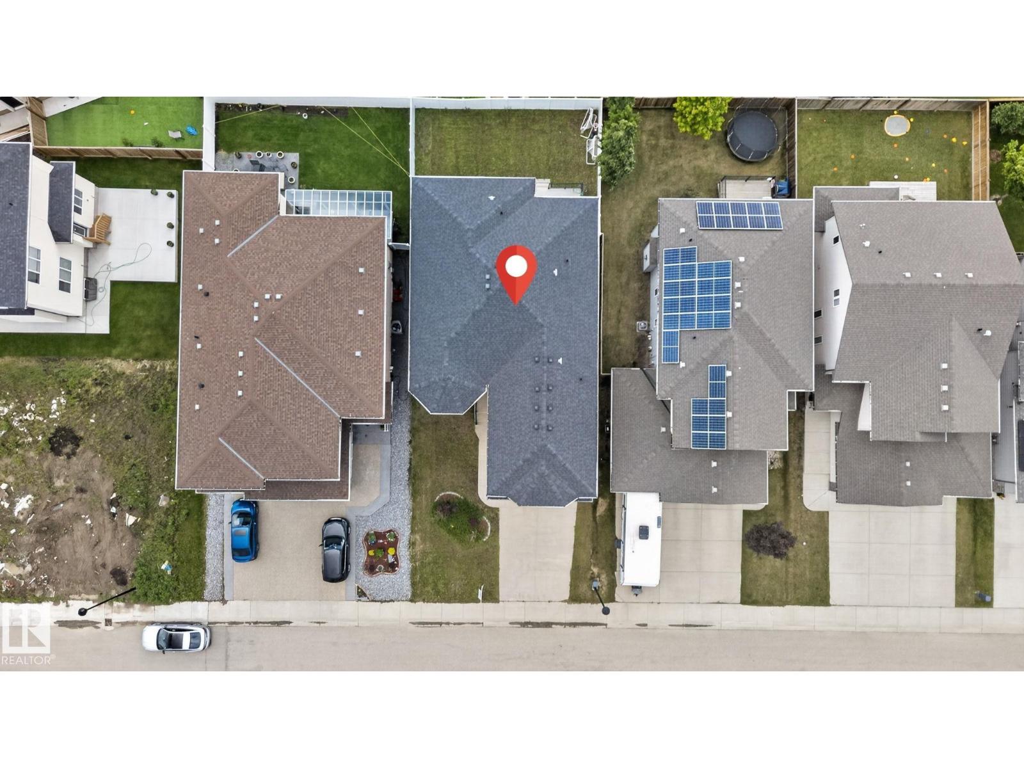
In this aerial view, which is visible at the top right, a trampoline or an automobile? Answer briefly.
trampoline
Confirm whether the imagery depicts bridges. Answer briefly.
No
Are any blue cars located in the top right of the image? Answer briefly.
No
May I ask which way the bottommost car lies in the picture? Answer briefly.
from left to right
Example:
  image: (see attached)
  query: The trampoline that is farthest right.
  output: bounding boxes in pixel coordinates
[884,114,910,136]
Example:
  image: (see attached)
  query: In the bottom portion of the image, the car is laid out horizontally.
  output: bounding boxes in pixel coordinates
[142,620,211,654]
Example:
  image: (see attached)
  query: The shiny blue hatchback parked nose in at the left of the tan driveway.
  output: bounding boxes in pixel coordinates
[226,500,259,562]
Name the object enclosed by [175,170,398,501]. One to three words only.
house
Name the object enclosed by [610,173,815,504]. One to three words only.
house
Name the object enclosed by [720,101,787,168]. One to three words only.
trampoline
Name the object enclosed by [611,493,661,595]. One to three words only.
trailer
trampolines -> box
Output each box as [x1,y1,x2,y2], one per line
[884,114,910,136]
[720,101,787,168]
